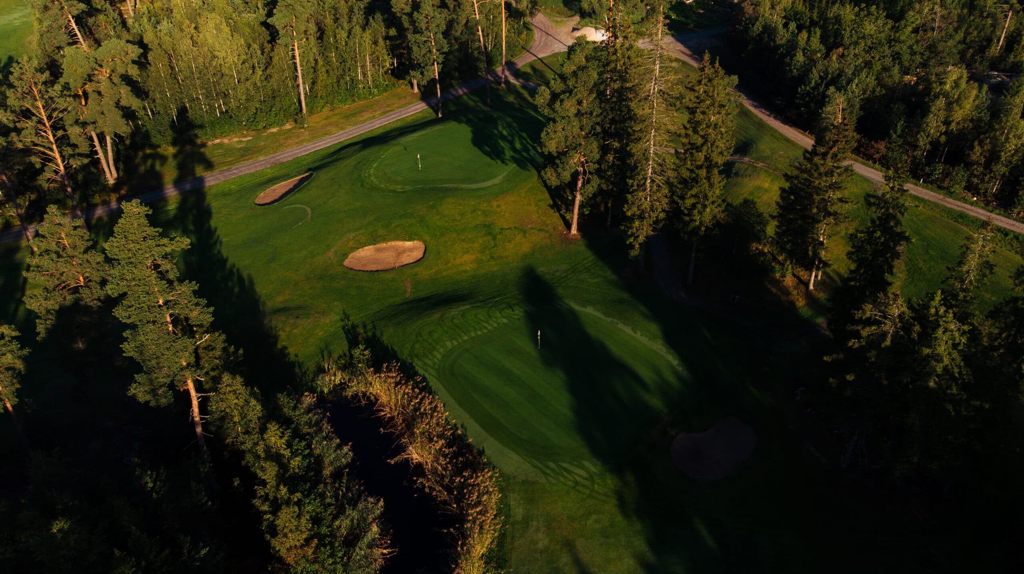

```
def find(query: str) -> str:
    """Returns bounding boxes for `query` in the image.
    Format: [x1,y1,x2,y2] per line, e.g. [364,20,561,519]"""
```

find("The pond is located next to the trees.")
[318,391,462,574]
